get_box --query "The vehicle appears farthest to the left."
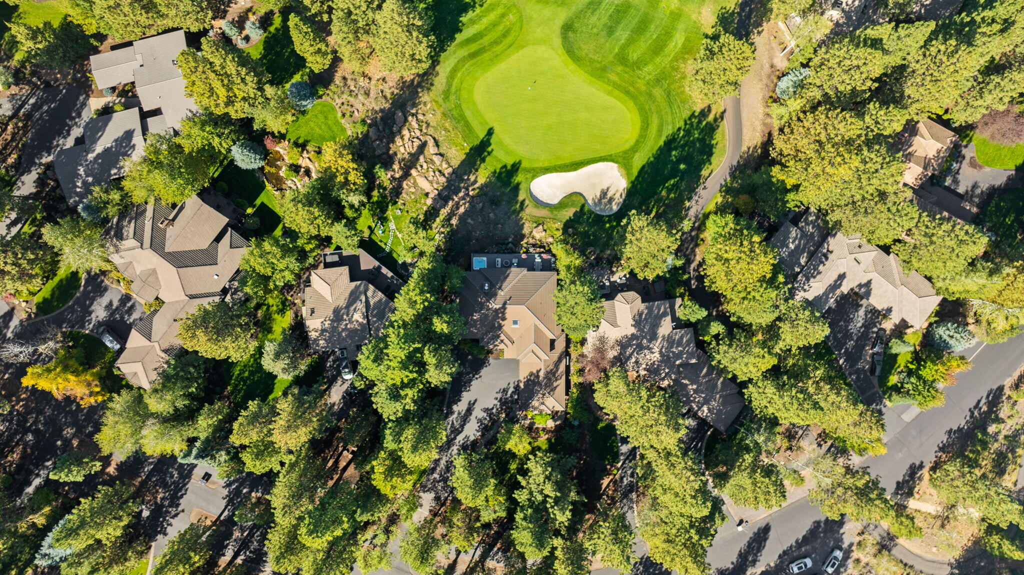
[94,327,120,352]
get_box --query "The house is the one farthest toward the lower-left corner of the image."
[101,194,248,389]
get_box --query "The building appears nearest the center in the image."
[460,268,566,414]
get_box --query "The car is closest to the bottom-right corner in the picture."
[823,551,844,575]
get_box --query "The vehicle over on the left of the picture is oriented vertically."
[337,350,353,380]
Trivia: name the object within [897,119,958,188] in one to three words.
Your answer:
house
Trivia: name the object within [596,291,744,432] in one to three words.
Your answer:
house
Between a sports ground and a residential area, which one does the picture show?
residential area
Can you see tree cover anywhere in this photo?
Yes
